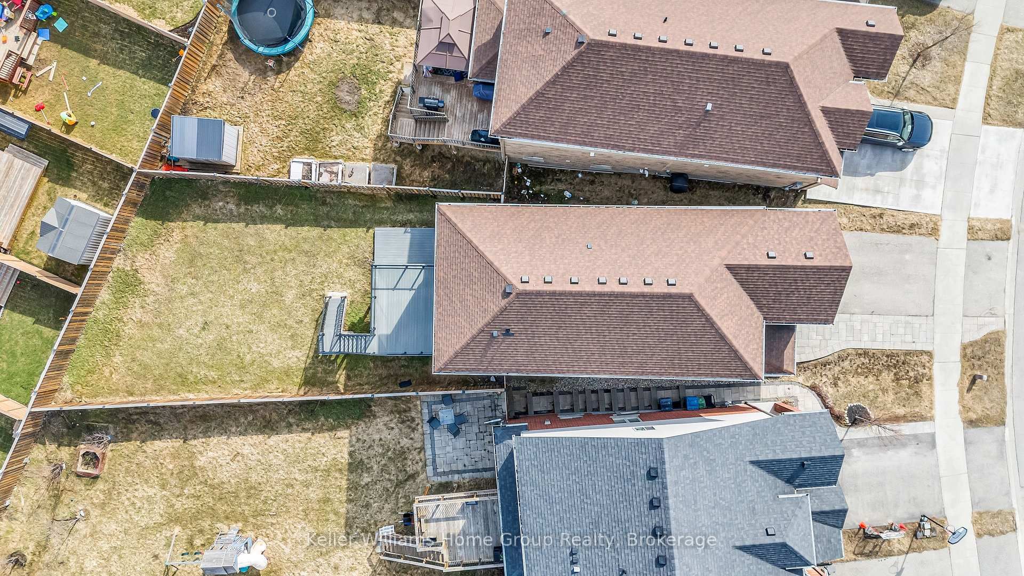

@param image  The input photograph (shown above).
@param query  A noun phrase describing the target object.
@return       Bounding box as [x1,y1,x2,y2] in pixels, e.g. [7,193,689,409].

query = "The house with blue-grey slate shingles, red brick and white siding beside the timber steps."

[492,402,849,576]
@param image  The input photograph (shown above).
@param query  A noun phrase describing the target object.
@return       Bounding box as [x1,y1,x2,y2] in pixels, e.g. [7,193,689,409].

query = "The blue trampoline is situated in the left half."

[222,0,319,60]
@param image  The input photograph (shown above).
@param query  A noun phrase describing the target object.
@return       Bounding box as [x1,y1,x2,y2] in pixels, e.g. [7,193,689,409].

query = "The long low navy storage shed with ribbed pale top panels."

[0,108,51,145]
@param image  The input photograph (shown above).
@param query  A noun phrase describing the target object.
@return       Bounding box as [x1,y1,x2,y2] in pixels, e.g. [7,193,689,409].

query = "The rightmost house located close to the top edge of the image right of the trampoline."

[467,0,905,193]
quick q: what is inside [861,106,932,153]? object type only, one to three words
car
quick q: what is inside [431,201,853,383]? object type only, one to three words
house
